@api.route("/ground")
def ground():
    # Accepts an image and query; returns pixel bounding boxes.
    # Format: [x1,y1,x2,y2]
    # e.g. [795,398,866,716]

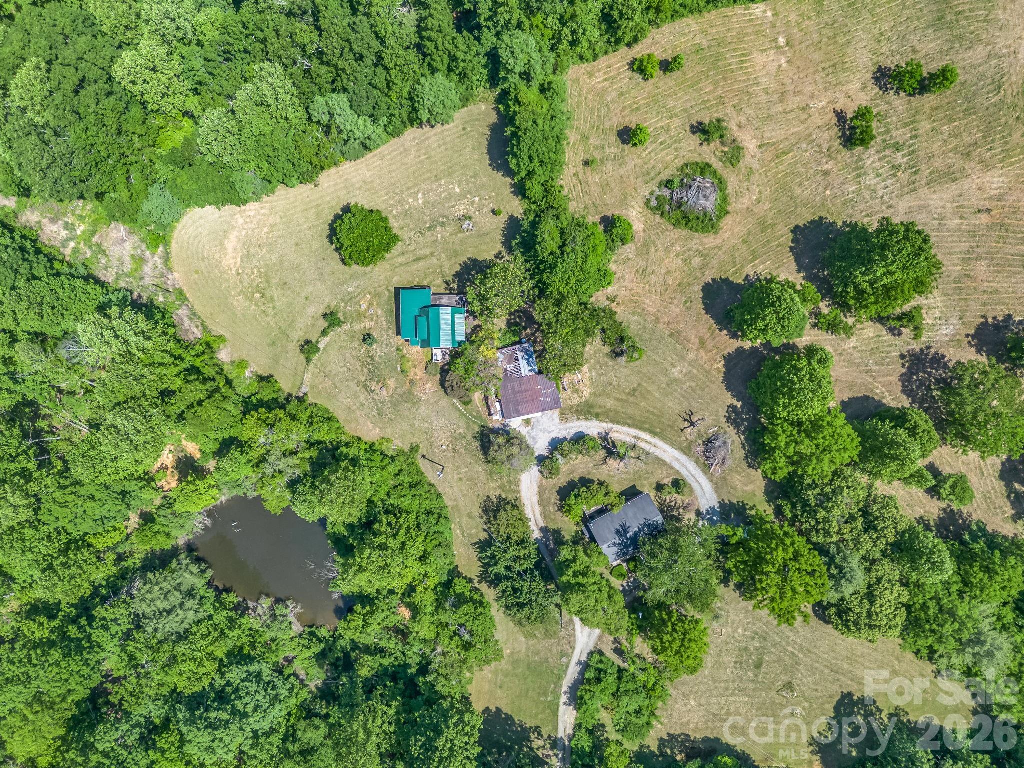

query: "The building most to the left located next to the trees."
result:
[399,289,467,366]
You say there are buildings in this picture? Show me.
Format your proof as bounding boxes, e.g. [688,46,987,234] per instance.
[490,337,563,423]
[586,492,668,565]
[399,289,467,366]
